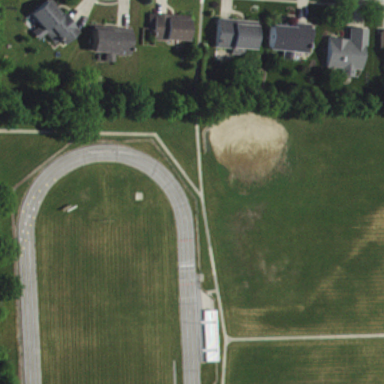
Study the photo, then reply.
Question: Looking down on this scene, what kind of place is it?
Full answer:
What you see here is a sports ground.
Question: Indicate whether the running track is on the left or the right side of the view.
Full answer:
It is on the left.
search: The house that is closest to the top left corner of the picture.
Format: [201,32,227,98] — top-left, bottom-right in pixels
[32,0,86,44]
